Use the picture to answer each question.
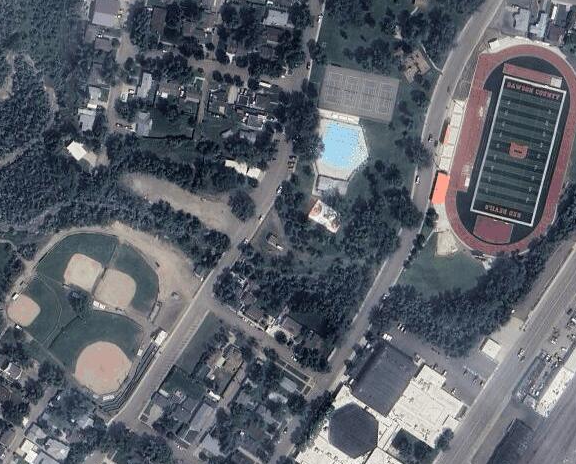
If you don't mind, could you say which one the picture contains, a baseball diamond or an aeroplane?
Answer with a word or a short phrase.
baseball diamond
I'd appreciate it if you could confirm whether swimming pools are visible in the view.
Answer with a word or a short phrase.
Yes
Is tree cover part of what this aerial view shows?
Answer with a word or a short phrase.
Yes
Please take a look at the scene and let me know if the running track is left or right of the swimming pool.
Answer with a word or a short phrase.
right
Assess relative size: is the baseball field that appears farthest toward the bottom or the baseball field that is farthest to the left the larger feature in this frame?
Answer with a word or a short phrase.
the baseball field that appears farthest toward the bottom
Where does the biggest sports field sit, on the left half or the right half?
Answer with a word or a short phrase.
right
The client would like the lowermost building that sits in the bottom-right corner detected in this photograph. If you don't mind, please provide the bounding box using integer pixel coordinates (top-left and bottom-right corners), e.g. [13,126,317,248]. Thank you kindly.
[489,419,536,464]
